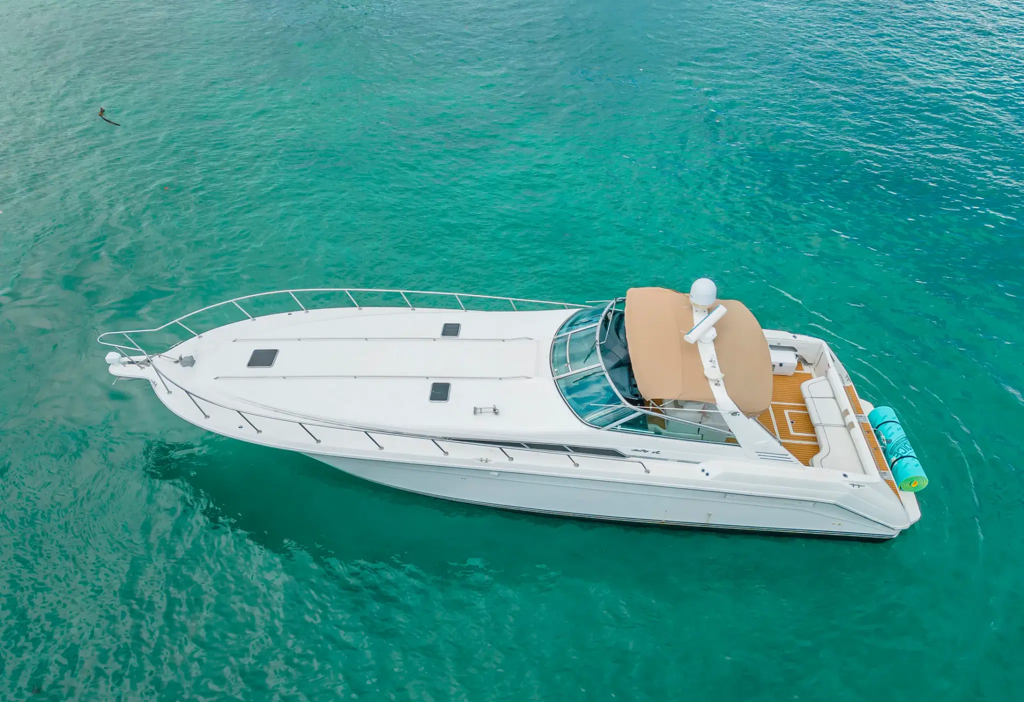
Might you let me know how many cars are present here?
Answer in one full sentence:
The count of cars is 0.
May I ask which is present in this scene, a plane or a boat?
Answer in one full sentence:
There is a boat in the scene.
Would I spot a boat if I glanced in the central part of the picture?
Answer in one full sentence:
Yes, looking in the central part of the picture, one can make out a boat.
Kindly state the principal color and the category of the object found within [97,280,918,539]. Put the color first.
white boat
